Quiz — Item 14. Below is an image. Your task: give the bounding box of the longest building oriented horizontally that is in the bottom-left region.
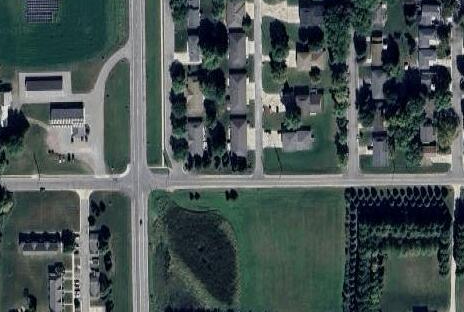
[21,240,60,256]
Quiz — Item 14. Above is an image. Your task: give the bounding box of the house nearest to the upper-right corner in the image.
[422,4,441,23]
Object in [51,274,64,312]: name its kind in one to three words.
building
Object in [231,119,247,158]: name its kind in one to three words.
house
